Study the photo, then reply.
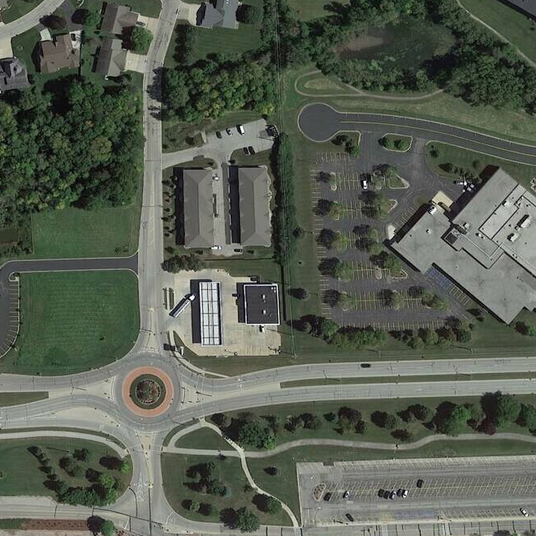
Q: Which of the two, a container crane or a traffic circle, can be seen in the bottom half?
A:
traffic circle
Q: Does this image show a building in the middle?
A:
Yes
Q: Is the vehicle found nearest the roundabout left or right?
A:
left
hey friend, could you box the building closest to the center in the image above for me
[244,284,280,324]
